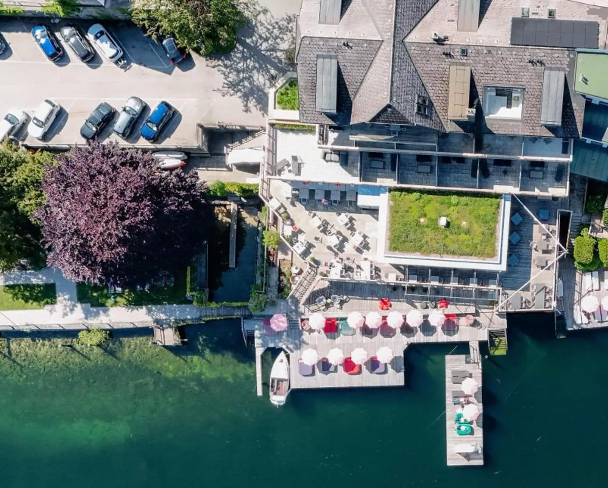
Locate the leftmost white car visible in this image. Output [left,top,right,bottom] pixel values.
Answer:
[0,103,30,144]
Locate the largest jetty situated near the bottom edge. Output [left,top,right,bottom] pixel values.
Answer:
[445,355,484,466]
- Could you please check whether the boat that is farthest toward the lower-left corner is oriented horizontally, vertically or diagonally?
vertically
